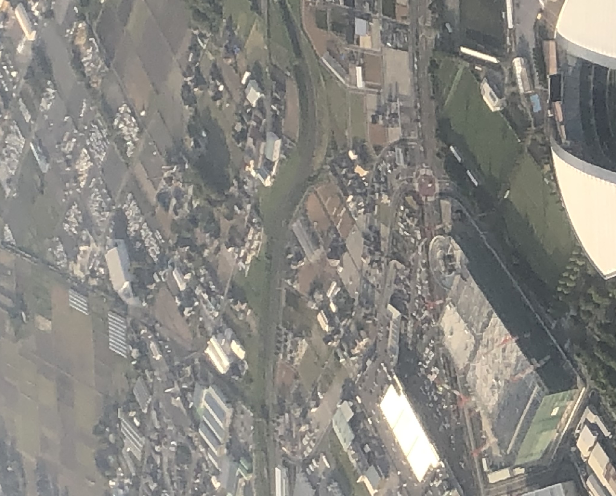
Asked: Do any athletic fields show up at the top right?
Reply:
Yes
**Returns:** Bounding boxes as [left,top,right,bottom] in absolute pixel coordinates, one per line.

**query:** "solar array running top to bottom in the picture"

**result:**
[107,313,127,358]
